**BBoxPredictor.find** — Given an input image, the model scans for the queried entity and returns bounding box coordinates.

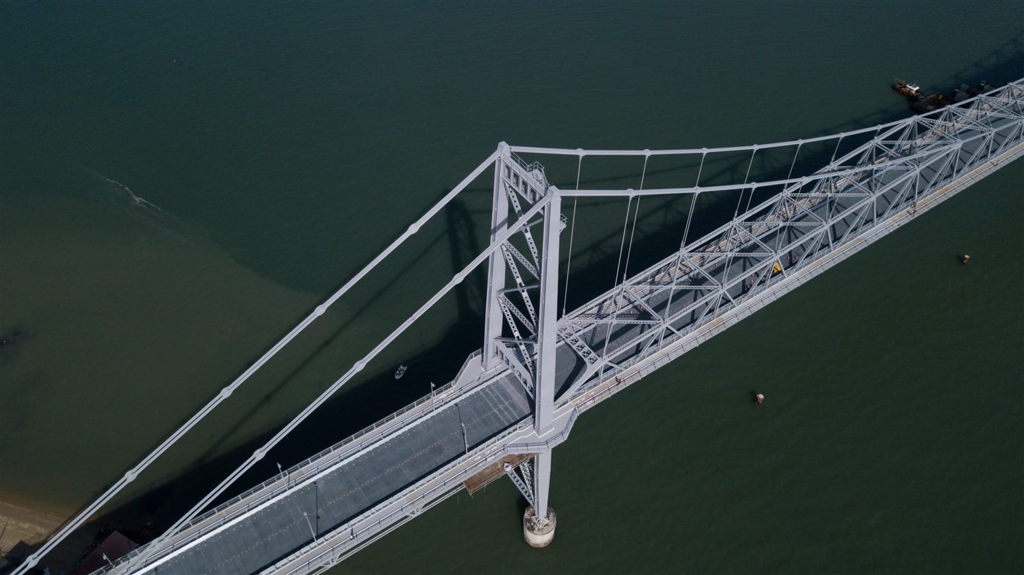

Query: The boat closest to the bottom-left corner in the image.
[392,361,408,378]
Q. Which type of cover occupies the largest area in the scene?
water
